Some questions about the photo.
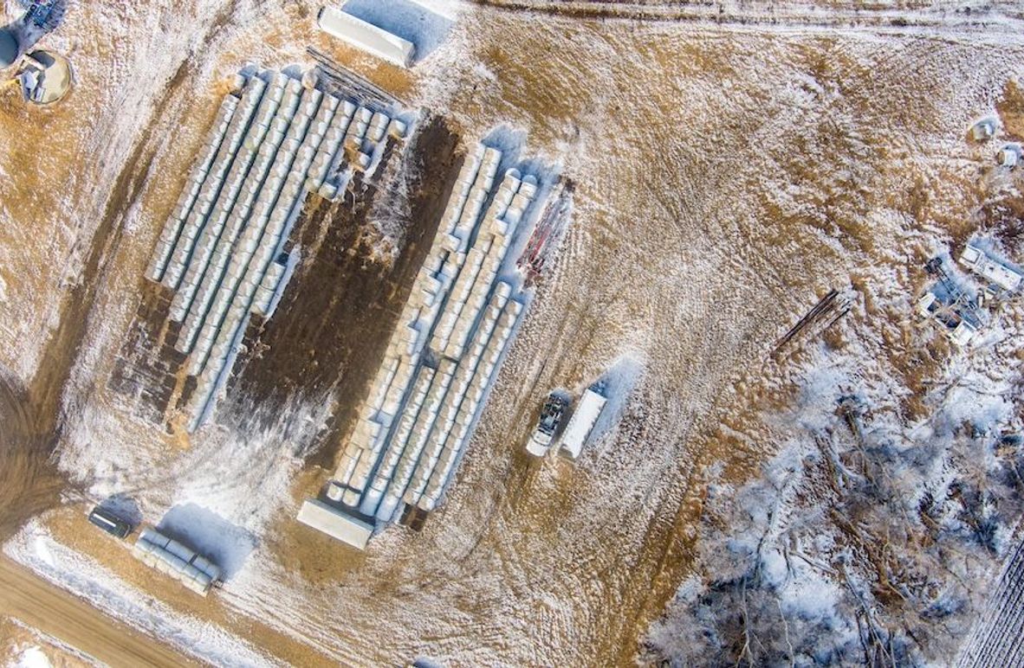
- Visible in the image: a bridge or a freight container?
freight container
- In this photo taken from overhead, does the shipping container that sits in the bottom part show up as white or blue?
white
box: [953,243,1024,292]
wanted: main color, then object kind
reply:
white truck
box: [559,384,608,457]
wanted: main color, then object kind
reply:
white trailer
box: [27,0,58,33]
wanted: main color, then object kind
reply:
blue work vehicle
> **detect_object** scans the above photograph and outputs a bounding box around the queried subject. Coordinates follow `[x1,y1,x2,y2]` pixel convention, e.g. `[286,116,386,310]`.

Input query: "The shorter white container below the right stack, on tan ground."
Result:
[297,493,378,551]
